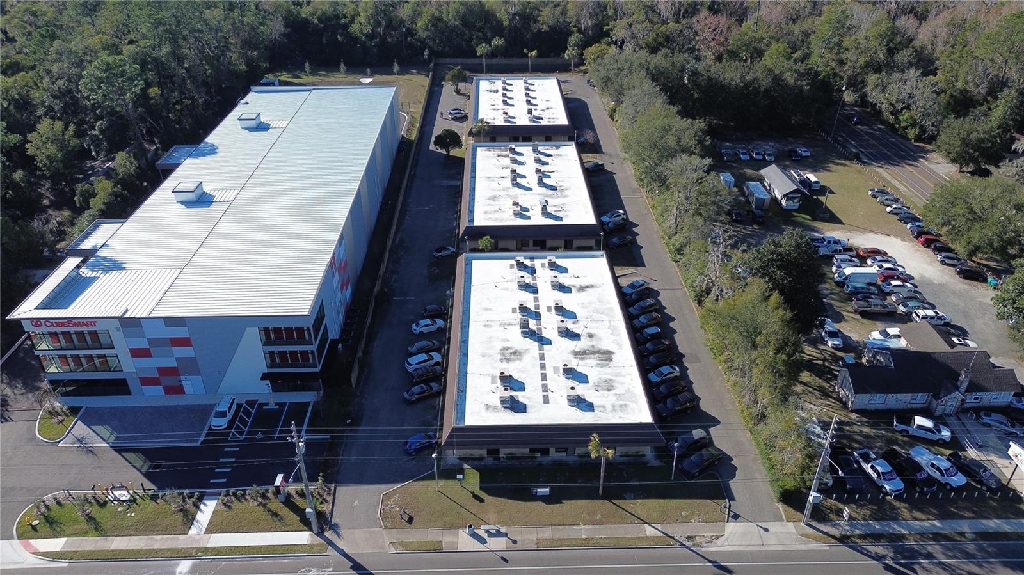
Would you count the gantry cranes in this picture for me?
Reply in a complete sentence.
Not a single gantry crane can be seen.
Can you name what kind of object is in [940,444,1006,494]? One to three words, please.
truck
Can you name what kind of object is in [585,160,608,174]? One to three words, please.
car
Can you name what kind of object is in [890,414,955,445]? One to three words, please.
truck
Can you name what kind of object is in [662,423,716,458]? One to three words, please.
car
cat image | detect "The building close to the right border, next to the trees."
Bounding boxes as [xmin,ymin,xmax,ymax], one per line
[833,317,1024,417]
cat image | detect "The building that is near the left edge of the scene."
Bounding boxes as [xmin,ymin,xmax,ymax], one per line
[3,83,404,394]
